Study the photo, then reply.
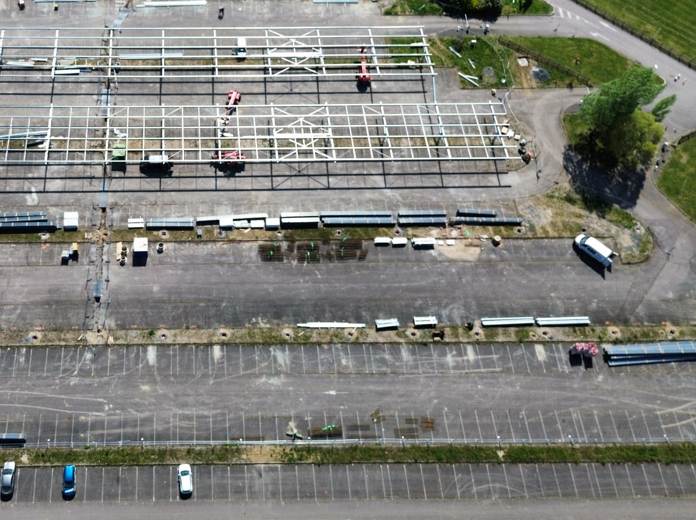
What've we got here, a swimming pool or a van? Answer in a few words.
van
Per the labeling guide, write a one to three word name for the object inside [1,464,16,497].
car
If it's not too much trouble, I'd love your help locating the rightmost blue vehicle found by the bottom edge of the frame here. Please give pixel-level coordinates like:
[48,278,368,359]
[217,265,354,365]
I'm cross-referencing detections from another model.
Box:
[62,469,76,498]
